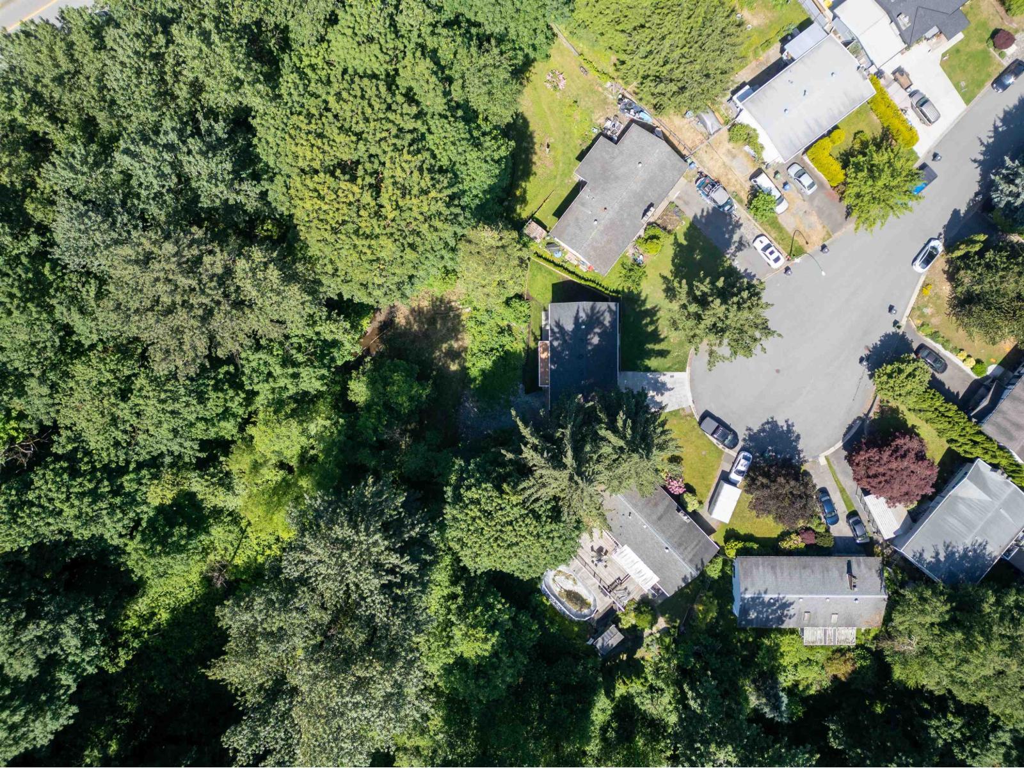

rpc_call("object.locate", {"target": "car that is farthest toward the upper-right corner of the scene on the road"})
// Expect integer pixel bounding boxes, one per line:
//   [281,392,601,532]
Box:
[988,56,1024,96]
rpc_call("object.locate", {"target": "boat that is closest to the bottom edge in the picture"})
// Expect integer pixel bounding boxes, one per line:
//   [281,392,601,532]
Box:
[693,171,738,216]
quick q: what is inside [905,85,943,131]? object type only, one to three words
car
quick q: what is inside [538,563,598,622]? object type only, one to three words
swimming pool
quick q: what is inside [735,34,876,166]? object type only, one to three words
house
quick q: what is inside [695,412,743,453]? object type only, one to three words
truck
